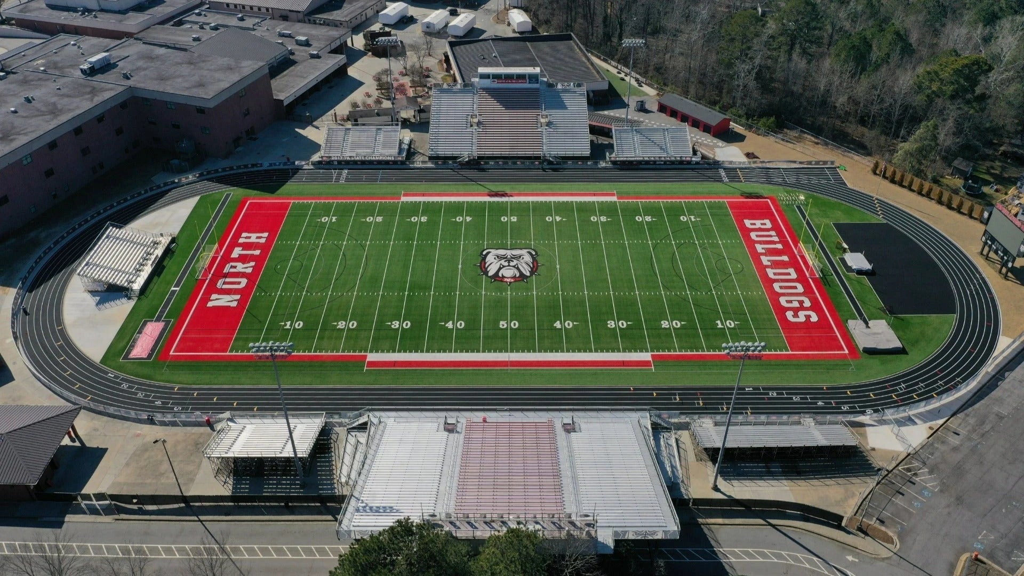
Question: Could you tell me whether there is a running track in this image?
Yes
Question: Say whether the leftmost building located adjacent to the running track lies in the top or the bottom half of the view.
bottom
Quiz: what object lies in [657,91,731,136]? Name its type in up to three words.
shed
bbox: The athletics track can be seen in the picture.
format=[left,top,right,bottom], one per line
[16,168,1001,417]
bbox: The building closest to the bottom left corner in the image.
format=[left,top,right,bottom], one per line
[0,405,82,496]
